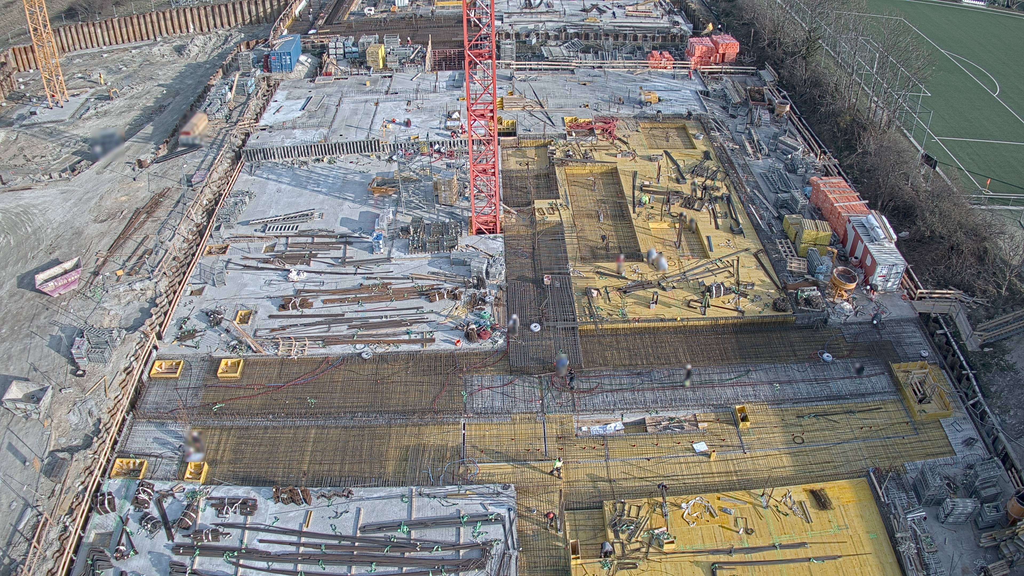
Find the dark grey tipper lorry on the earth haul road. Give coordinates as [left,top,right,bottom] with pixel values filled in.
[80,122,129,158]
